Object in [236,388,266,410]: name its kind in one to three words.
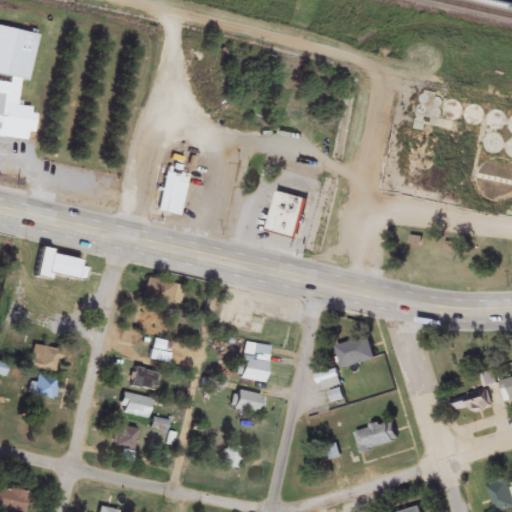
house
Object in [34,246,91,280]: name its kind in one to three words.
building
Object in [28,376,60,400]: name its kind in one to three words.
house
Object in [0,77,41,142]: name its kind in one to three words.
building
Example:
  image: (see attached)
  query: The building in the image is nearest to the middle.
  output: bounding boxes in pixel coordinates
[264,190,306,238]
